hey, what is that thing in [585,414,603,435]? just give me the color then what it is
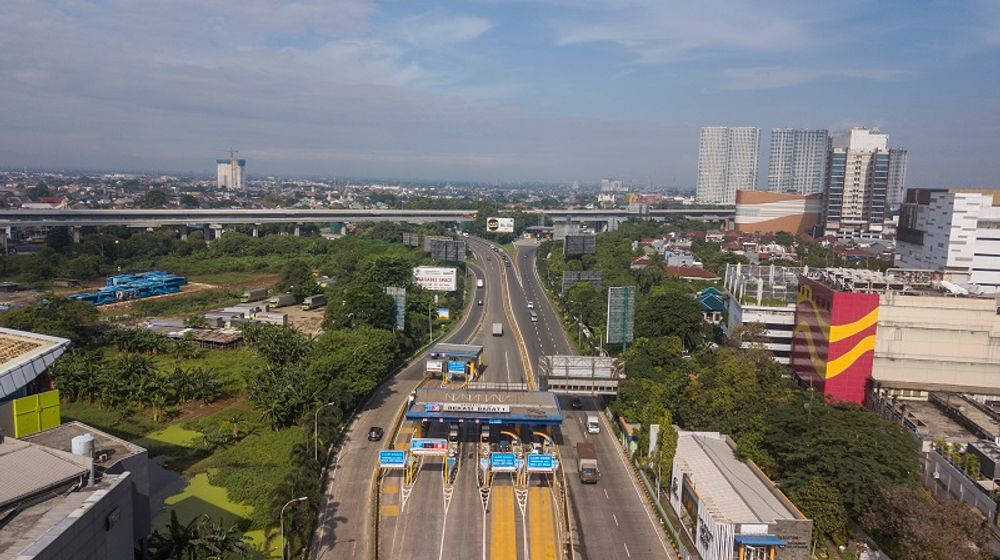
white car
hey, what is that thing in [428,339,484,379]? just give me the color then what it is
gray toll station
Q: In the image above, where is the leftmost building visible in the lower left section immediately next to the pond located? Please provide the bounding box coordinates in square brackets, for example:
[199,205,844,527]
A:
[0,330,149,560]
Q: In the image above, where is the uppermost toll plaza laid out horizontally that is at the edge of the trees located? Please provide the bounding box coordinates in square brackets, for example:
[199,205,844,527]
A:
[521,223,553,237]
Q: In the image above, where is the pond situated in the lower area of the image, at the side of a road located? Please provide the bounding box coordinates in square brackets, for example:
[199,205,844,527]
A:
[138,419,278,560]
